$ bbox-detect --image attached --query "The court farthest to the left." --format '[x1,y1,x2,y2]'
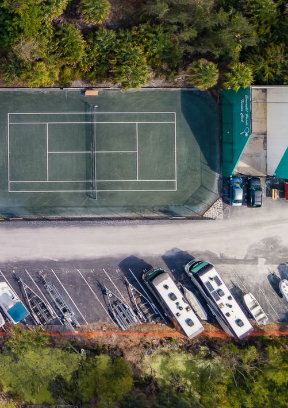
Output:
[0,89,219,220]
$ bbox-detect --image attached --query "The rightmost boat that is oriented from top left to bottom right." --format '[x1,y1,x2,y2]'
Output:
[246,293,268,323]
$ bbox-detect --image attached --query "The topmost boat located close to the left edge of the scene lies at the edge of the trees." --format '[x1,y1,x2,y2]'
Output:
[0,282,30,324]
